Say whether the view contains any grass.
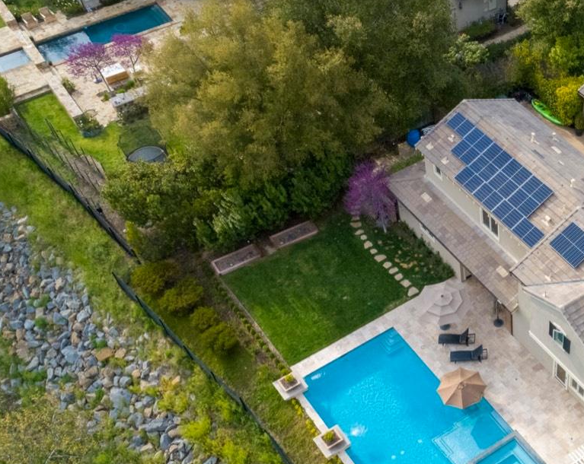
Yes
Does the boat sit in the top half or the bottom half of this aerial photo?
top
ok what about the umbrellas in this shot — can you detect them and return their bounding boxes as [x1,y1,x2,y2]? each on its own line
[437,372,489,418]
[419,289,469,334]
[494,300,503,326]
